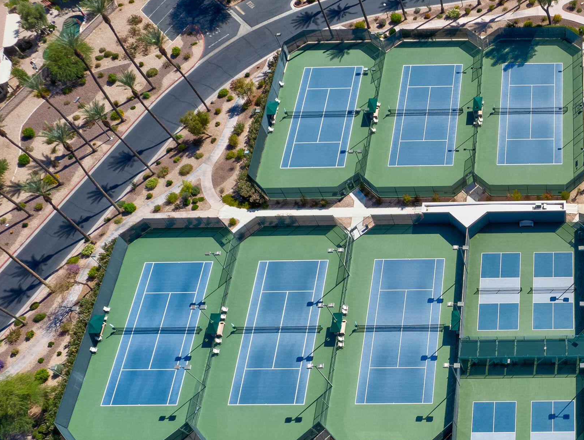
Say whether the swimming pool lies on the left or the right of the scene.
left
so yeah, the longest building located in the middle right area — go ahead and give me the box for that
[422,199,566,239]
